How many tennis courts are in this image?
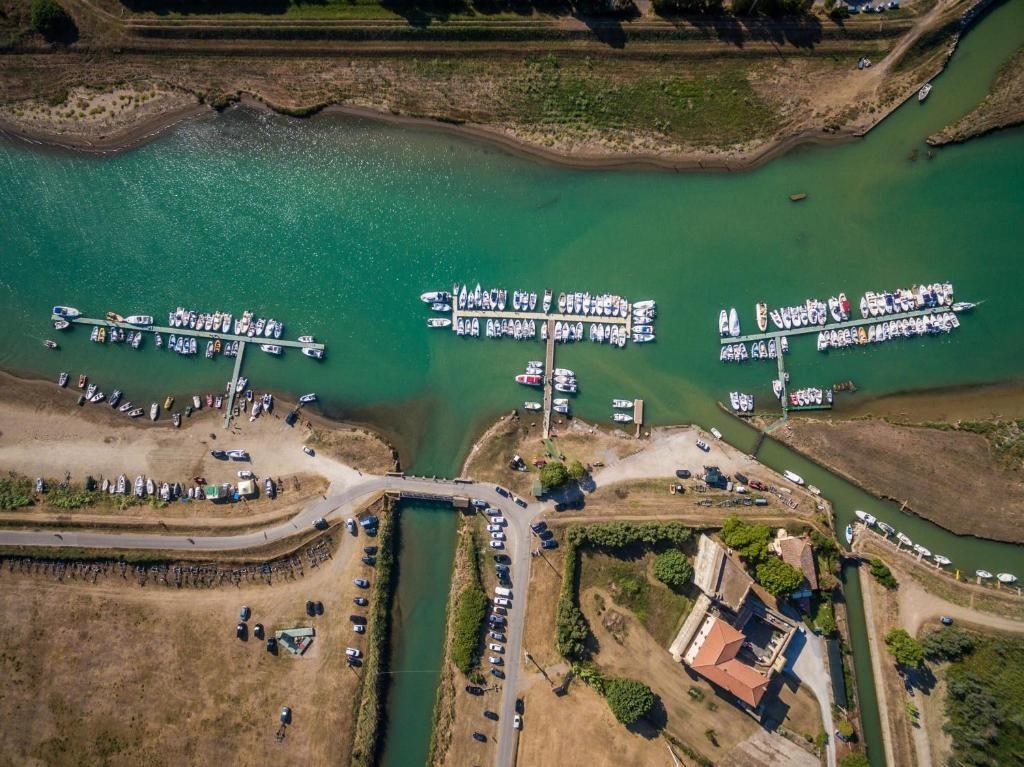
0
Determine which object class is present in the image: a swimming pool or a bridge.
bridge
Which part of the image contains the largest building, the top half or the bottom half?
bottom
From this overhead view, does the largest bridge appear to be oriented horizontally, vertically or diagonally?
horizontally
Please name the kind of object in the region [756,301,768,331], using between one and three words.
boat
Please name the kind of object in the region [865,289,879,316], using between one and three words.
boat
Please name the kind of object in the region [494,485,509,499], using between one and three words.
car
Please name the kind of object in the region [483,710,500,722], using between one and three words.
vehicle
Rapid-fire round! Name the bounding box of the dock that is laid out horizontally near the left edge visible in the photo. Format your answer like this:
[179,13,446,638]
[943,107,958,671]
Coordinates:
[51,315,324,419]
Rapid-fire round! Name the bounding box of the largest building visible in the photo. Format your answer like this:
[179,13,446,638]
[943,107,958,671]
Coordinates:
[666,529,799,712]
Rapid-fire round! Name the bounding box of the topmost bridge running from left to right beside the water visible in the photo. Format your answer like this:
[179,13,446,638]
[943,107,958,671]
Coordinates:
[384,472,472,508]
